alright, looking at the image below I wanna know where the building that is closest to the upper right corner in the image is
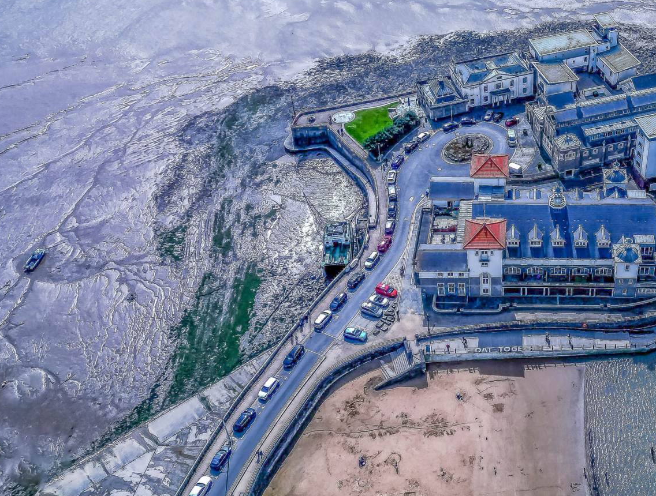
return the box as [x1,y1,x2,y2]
[528,11,642,89]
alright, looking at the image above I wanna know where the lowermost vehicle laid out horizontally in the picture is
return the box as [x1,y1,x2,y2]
[341,327,369,342]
